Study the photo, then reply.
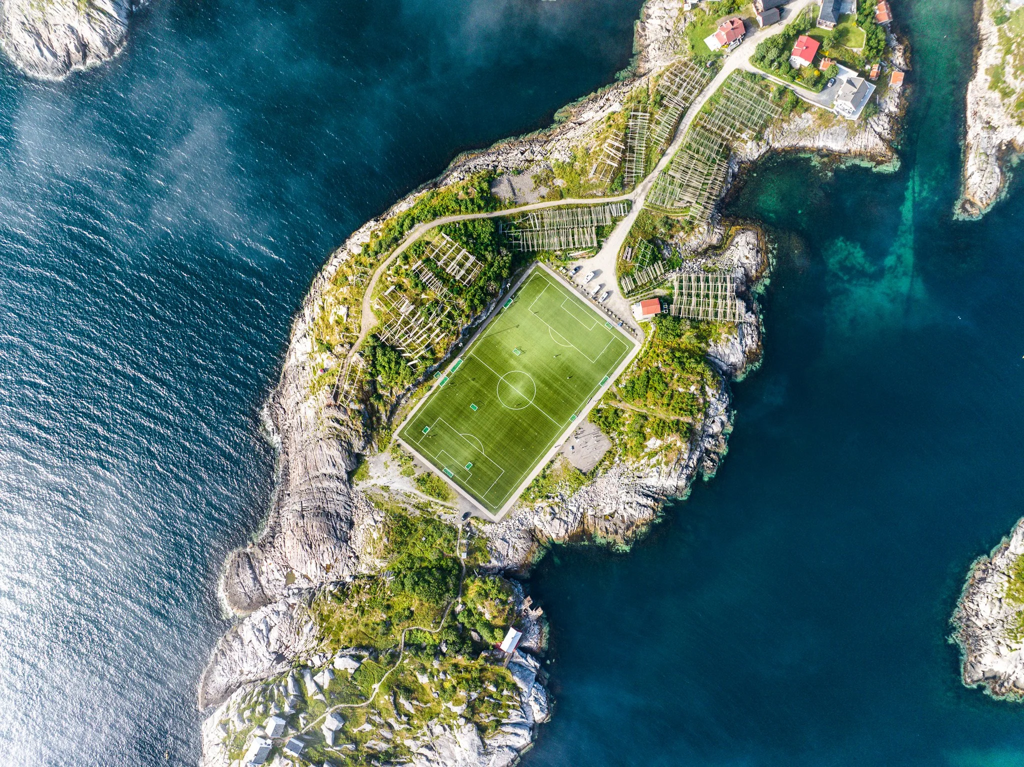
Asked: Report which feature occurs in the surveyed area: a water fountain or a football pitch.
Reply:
football pitch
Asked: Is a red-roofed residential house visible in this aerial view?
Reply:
Yes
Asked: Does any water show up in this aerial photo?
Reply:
Yes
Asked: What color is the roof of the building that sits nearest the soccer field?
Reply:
red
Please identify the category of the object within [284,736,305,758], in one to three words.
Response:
shed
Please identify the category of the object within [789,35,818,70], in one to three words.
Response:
house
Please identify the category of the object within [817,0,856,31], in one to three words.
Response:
house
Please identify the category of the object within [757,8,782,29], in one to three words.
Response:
building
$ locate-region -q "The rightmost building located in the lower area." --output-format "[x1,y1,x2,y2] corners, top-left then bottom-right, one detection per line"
[496,626,522,654]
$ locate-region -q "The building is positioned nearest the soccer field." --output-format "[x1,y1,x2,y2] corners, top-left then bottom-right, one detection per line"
[631,298,661,322]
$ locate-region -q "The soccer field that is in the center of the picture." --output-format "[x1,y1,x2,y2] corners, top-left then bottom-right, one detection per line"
[398,267,636,515]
